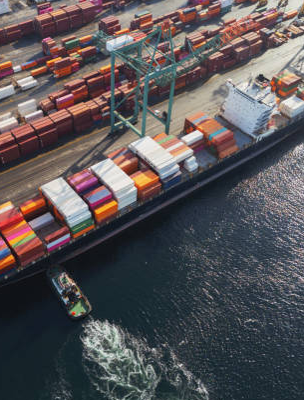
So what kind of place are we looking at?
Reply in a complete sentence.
What you see here is a port.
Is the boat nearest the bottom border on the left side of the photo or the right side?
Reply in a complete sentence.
The boat nearest the bottom border sits on the left side.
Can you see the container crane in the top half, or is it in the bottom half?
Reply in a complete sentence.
The container crane is in the top half of the image.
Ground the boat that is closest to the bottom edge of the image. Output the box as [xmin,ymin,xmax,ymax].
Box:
[55,264,93,320]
